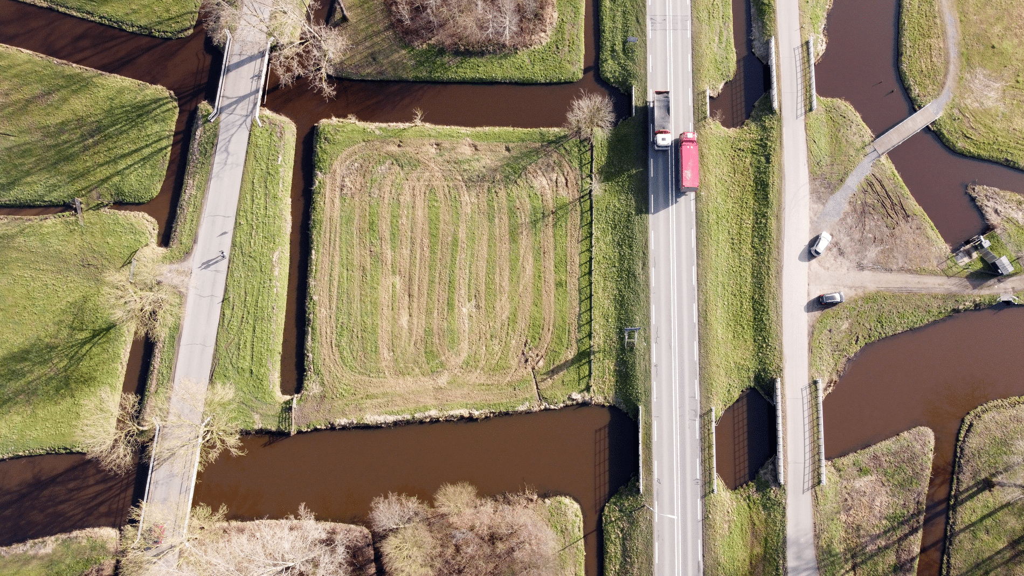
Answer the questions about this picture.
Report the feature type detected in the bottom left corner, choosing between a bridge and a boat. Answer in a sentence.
The feature located in the bottom left corner is a bridge.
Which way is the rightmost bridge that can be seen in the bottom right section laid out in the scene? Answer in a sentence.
Seen from above, the rightmost bridge that can be seen in the bottom right section lies up and down.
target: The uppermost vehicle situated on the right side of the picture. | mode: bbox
[653,90,672,151]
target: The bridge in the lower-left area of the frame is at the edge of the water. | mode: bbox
[131,415,213,547]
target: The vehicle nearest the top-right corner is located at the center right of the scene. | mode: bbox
[810,231,832,256]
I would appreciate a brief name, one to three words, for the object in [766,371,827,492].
bridge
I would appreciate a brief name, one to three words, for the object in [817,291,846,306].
car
